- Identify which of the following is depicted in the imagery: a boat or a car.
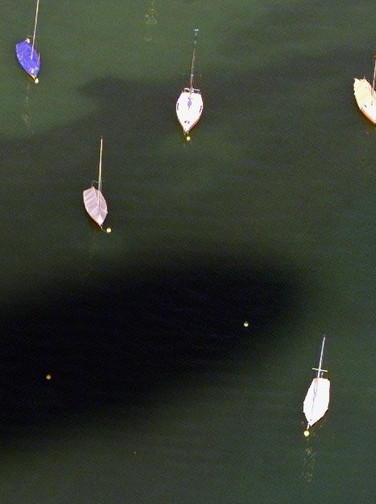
boat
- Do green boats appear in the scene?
No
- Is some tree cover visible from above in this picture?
No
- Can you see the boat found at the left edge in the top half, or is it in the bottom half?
top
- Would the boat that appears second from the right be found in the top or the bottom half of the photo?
bottom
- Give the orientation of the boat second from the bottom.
up and down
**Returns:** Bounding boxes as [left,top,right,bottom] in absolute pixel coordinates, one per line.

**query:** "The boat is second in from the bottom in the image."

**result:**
[83,136,108,229]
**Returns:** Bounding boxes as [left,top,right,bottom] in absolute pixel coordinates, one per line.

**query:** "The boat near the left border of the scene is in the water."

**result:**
[16,0,41,81]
